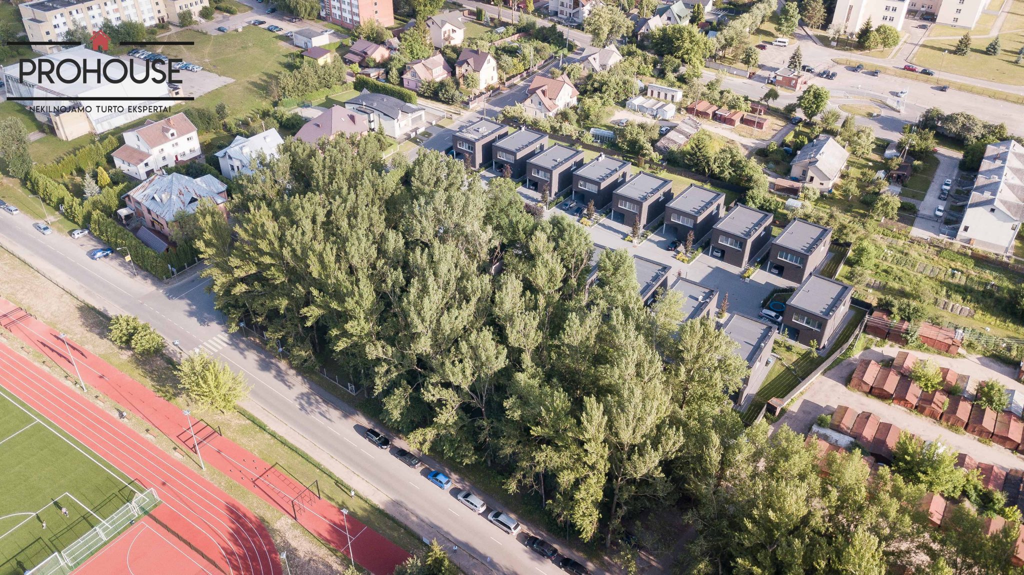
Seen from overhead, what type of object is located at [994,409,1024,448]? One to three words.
building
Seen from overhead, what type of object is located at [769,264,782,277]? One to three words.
vehicle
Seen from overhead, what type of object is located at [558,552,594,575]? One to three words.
car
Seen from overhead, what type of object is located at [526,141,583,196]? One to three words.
house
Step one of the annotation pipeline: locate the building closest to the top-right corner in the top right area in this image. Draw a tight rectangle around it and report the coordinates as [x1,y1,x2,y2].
[935,0,993,30]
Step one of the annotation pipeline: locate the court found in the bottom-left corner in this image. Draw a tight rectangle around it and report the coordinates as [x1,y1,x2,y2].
[69,515,203,575]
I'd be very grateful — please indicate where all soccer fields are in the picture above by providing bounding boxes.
[0,384,162,575]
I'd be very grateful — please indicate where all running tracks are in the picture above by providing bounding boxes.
[0,339,282,575]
